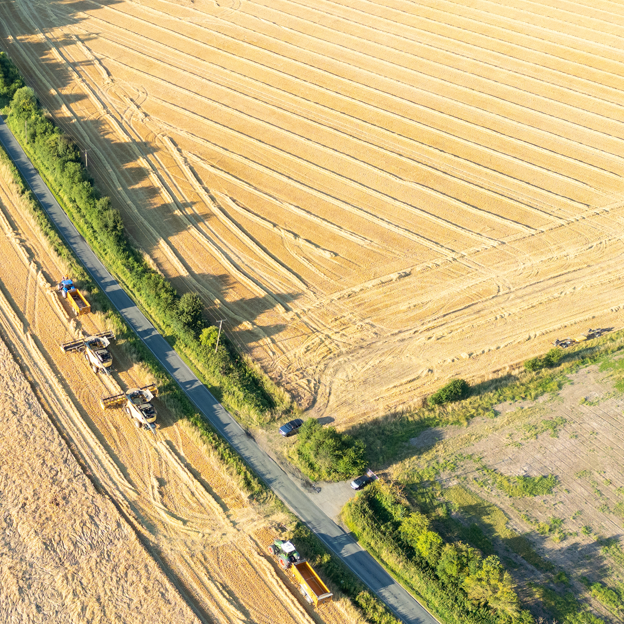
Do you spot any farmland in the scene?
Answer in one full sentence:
Yes, there is farmland in the image.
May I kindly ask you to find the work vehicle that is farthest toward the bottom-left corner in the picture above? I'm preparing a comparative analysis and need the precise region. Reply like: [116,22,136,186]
[99,381,158,434]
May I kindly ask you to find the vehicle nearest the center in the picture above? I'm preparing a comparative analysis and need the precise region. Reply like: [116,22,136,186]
[279,418,304,438]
